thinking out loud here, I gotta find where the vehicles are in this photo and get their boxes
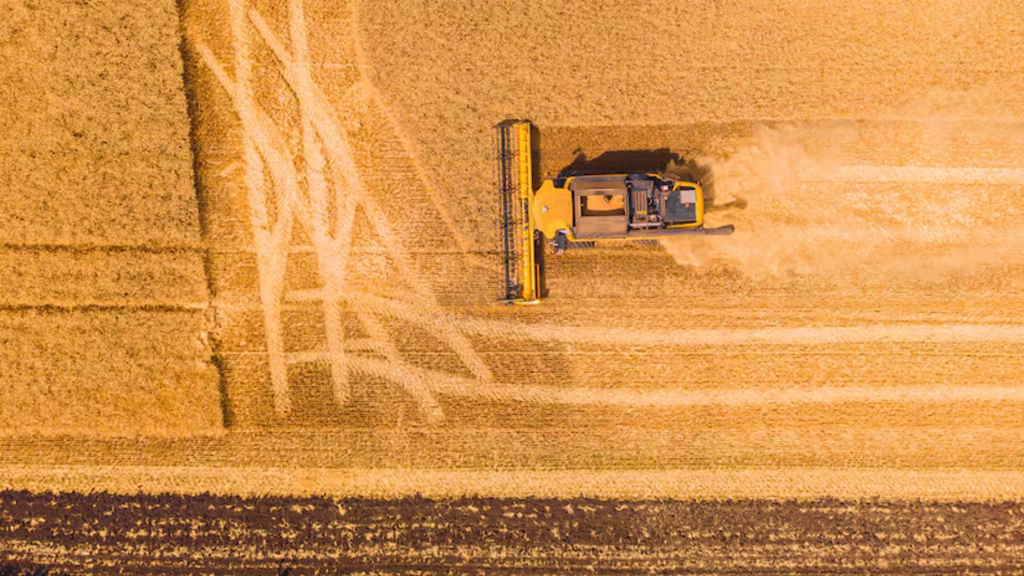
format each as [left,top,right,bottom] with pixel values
[492,119,736,306]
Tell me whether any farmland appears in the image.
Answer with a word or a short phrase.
Yes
